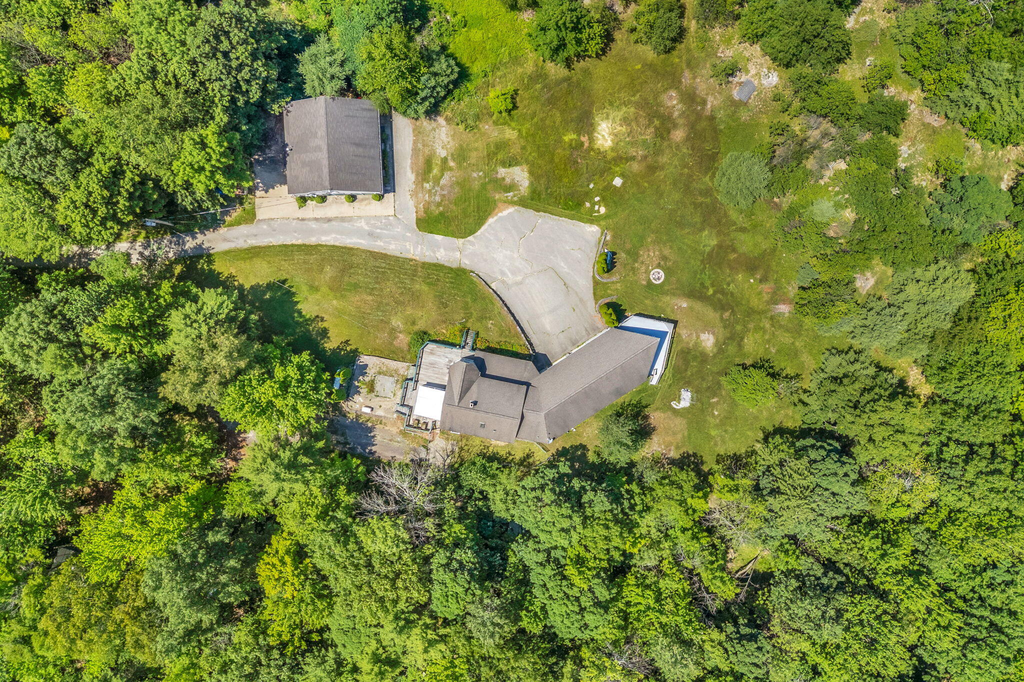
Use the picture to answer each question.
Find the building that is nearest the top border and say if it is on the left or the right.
left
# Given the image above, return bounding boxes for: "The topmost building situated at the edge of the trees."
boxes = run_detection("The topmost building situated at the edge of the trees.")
[284,97,384,197]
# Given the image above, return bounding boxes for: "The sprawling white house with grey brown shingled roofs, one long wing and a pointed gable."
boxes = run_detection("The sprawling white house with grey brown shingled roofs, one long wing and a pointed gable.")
[440,328,660,444]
